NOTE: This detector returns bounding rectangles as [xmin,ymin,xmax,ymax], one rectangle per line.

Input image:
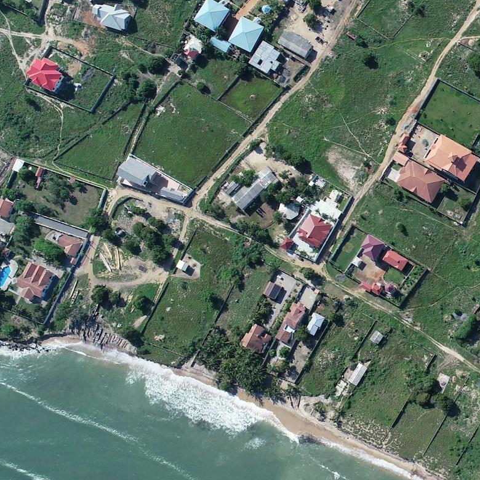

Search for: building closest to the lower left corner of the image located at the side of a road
[16,261,61,302]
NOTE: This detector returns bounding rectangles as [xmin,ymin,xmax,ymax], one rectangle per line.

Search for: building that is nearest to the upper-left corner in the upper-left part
[24,54,67,95]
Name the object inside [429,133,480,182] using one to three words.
house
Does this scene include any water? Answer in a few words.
Yes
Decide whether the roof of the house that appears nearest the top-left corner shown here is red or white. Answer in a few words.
red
